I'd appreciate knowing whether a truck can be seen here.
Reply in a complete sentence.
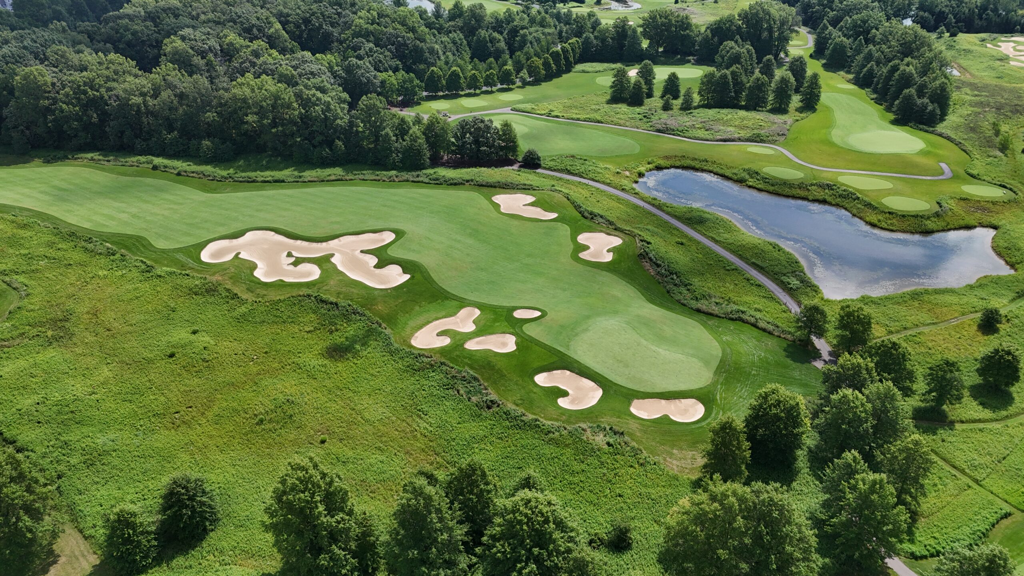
No, there appears to be no truck in this shot.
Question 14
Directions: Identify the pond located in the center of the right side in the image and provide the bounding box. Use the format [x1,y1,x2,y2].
[636,168,1015,300]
